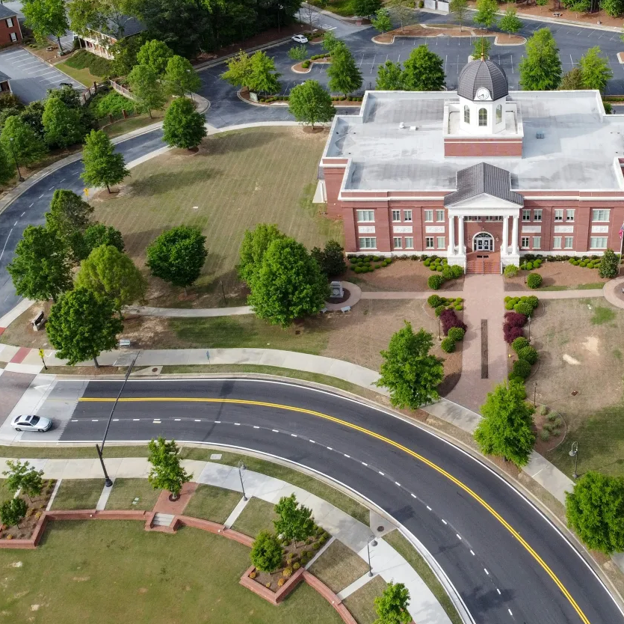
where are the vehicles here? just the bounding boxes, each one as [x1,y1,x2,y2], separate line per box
[291,34,307,44]
[5,412,54,432]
